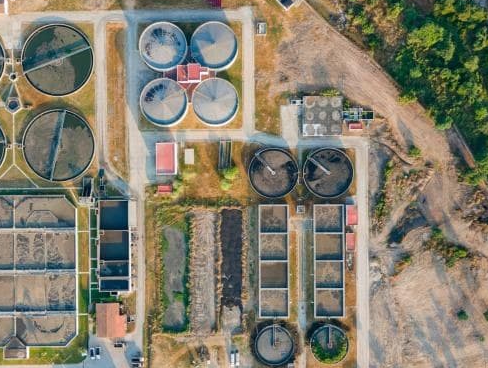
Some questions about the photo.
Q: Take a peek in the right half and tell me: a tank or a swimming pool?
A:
tank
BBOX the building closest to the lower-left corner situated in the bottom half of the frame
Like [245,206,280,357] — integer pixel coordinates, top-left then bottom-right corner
[96,303,127,339]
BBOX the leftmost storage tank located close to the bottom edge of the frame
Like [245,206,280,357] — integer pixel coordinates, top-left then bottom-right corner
[253,324,295,365]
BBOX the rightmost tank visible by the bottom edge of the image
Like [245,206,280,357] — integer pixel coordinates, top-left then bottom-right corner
[308,324,348,364]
